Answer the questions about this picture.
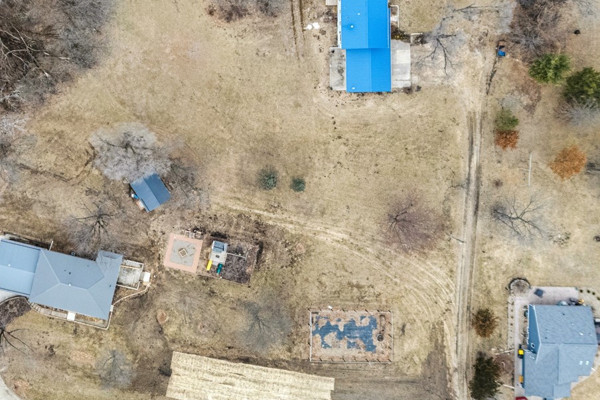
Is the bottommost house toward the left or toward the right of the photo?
right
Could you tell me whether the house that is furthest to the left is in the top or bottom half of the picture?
bottom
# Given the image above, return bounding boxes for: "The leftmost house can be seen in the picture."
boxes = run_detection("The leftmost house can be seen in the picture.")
[0,238,123,321]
